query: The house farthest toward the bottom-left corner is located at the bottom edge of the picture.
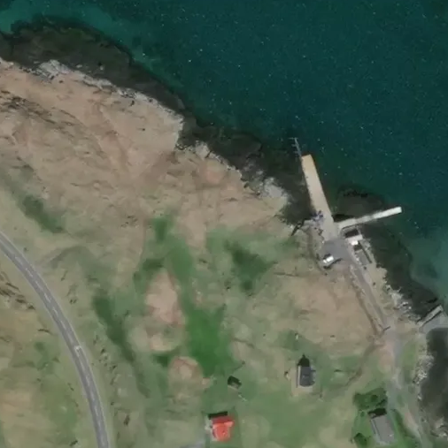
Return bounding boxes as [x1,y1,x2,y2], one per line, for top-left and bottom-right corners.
[211,414,234,442]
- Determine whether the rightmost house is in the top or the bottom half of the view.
bottom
